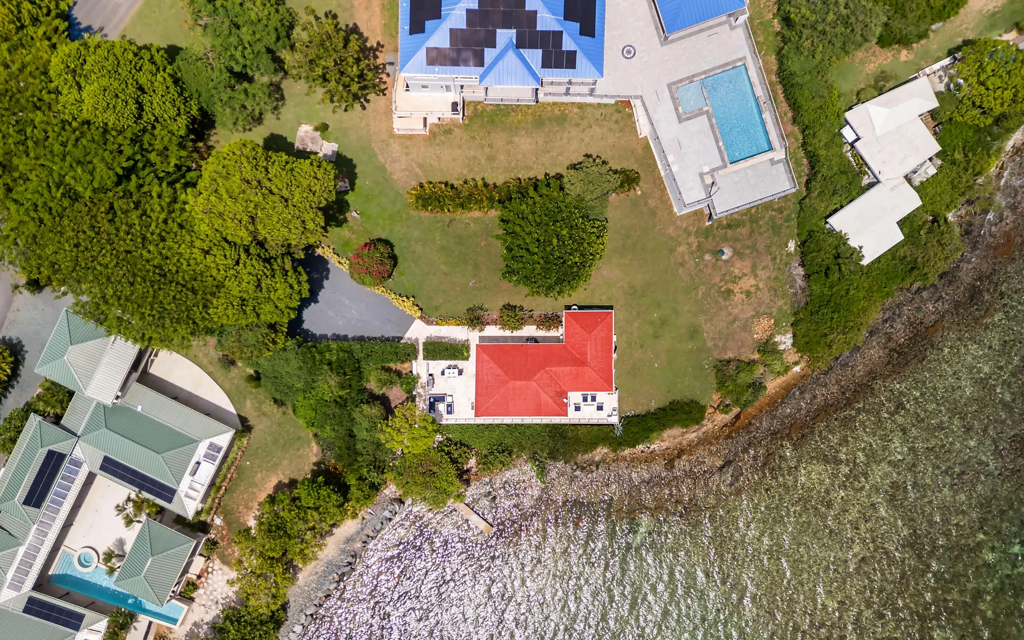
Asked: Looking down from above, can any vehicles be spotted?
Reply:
No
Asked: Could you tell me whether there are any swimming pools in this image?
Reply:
Yes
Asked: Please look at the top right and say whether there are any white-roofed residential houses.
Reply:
Yes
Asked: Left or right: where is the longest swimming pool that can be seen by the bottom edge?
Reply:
left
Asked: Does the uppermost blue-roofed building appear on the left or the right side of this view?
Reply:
right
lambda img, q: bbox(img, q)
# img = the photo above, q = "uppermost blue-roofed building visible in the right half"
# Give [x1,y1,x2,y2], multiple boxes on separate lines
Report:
[653,0,748,44]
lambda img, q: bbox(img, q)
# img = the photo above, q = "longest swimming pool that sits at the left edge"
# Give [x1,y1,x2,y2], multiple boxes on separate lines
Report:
[43,545,189,630]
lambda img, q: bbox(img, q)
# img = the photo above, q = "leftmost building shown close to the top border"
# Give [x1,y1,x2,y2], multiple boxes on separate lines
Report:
[391,0,603,133]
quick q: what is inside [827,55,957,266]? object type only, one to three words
house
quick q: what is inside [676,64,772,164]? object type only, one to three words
swimming pool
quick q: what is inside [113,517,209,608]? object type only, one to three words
building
